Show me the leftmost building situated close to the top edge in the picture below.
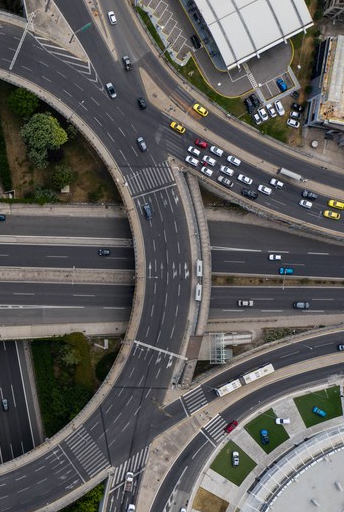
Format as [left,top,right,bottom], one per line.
[184,0,316,73]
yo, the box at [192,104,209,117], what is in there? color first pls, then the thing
yellow vehicle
